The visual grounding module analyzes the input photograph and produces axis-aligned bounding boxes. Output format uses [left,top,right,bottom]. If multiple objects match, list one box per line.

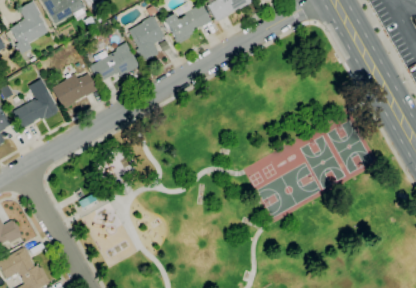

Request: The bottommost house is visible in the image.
[0,250,52,288]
